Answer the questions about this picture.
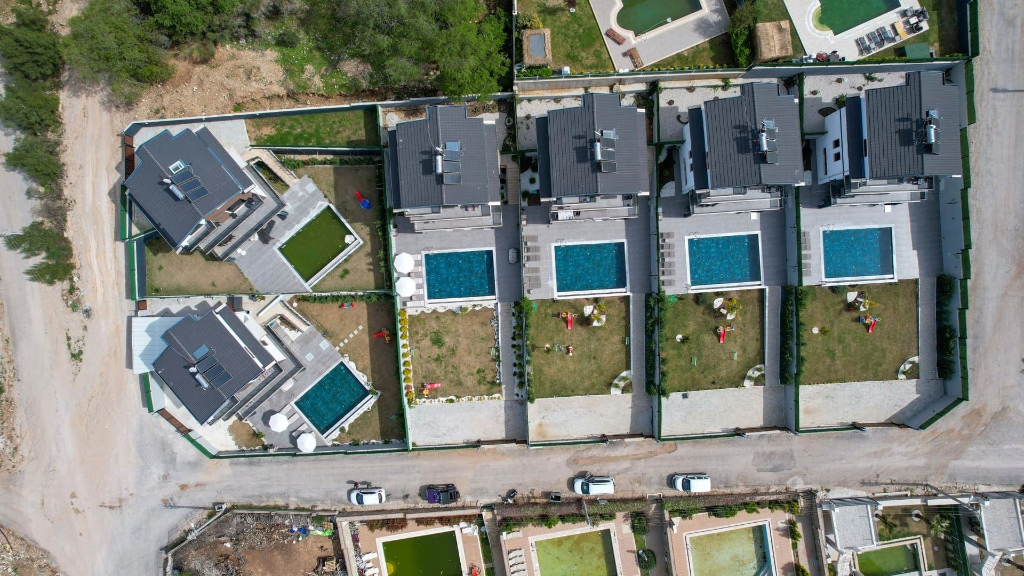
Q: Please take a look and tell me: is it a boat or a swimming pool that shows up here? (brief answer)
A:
swimming pool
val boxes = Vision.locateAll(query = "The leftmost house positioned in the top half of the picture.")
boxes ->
[119,122,290,261]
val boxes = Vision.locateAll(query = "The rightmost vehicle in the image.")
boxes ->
[671,472,713,494]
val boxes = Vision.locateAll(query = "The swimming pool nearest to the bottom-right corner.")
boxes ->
[856,536,926,576]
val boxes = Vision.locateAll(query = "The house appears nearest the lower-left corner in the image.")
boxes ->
[143,296,308,428]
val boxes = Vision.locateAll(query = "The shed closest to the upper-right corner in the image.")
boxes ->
[897,42,932,59]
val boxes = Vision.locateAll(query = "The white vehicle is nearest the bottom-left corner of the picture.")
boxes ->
[350,486,387,507]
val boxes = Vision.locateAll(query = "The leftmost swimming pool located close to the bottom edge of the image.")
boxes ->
[376,525,471,576]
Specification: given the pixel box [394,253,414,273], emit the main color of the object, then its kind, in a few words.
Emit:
white umbrella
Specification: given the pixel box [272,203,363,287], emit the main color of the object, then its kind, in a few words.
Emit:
green swimming pool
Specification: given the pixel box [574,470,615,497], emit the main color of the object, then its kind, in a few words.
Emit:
white vehicle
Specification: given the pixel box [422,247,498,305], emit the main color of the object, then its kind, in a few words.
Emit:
blue swimming pool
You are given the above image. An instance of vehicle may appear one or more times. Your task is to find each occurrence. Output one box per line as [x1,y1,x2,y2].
[507,489,518,505]
[350,486,387,507]
[574,470,615,497]
[427,485,461,507]
[671,472,713,494]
